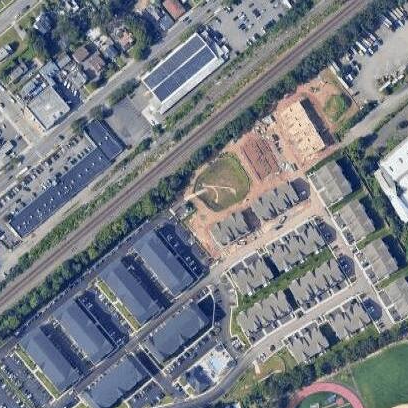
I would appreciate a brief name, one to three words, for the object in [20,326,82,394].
building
